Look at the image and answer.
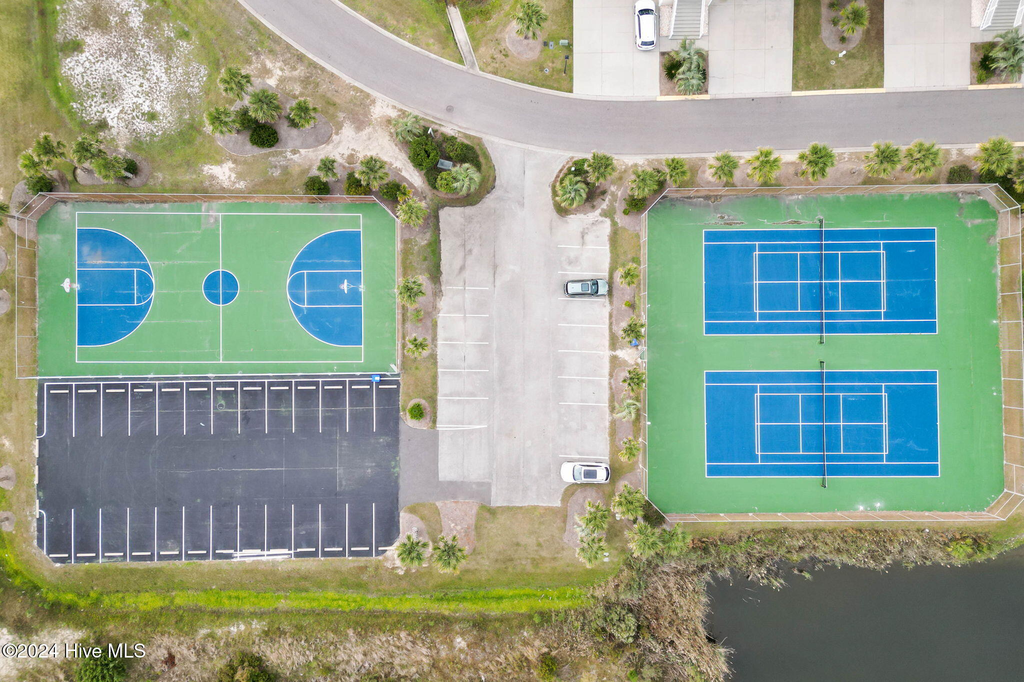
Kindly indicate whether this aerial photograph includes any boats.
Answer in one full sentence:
No, the picture doesn't show any boat.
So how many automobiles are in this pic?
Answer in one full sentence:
There are 3 automobiles in the image.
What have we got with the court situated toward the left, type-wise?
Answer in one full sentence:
Looking closely, the court situated toward the left is a basketball court.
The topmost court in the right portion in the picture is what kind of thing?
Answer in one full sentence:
The topmost court in the right portion is a tennis court.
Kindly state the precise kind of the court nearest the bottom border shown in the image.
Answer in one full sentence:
From above, the court nearest the bottom border can be identified as a tennis court.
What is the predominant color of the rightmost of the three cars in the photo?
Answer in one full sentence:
The rightmost of the three cars is white.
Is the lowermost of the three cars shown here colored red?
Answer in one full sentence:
No, the color of the lowermost of the three cars is white.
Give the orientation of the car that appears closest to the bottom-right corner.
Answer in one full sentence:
I'd say the car that appears closest to the bottom-right corner is aligned horizontally in the picture.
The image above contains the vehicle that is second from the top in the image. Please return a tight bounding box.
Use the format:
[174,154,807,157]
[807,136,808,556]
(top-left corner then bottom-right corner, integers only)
[563,277,609,297]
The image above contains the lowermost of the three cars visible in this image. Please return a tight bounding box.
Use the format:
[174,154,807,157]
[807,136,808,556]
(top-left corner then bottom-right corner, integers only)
[561,463,609,485]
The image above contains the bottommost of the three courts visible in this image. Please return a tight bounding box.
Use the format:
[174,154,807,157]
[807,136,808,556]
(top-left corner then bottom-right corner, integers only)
[645,350,1004,513]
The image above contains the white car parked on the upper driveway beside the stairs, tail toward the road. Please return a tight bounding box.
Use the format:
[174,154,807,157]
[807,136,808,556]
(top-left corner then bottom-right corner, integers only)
[635,2,657,49]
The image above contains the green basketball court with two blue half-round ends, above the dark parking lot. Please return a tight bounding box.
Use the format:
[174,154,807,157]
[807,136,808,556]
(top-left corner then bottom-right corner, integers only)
[37,201,400,381]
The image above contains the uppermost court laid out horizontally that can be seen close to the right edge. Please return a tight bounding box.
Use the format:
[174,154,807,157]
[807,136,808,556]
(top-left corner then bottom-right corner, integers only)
[645,193,1001,353]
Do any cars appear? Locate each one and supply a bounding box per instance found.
[561,463,609,485]
[635,2,657,49]
[563,277,609,297]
